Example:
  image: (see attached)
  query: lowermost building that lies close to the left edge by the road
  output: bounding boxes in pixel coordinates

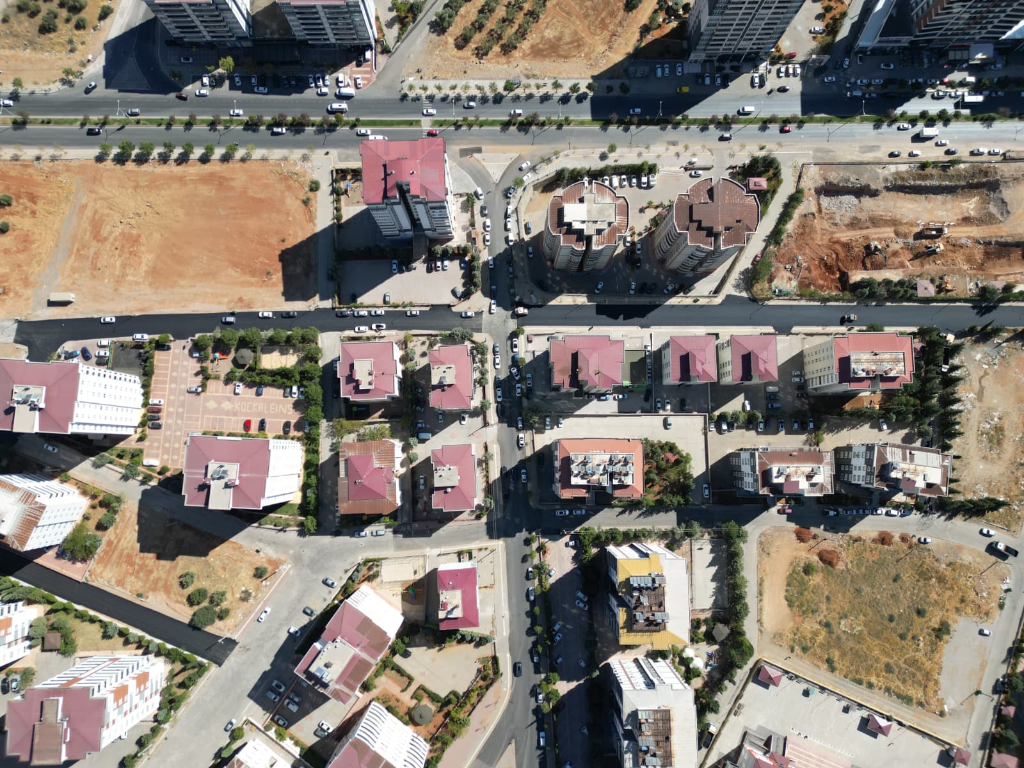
[5,653,163,767]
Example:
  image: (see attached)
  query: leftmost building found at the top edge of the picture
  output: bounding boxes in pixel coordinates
[139,0,249,50]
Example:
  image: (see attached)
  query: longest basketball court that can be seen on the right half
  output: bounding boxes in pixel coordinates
[693,540,727,608]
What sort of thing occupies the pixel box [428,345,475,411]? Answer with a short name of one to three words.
building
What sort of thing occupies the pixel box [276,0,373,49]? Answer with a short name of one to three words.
building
